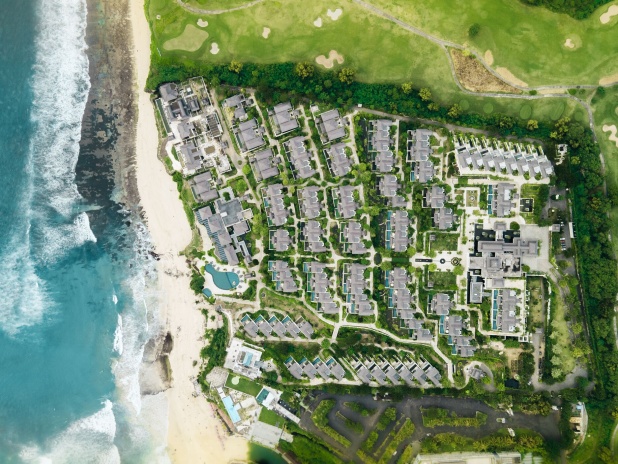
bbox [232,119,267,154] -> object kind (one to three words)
house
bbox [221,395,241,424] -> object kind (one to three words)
swimming pool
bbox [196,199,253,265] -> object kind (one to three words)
building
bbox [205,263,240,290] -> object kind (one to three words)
swimming pool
